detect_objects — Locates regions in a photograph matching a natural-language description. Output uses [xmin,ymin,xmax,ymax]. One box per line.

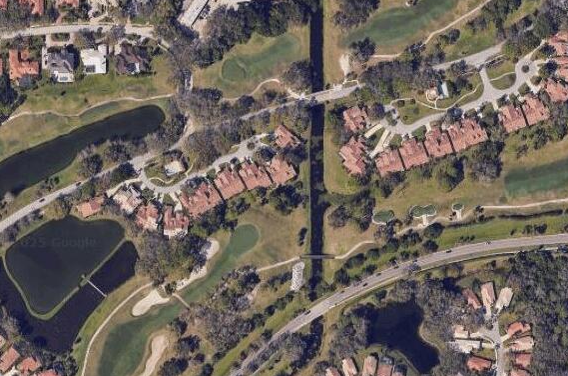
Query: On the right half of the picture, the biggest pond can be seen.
[363,298,440,373]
